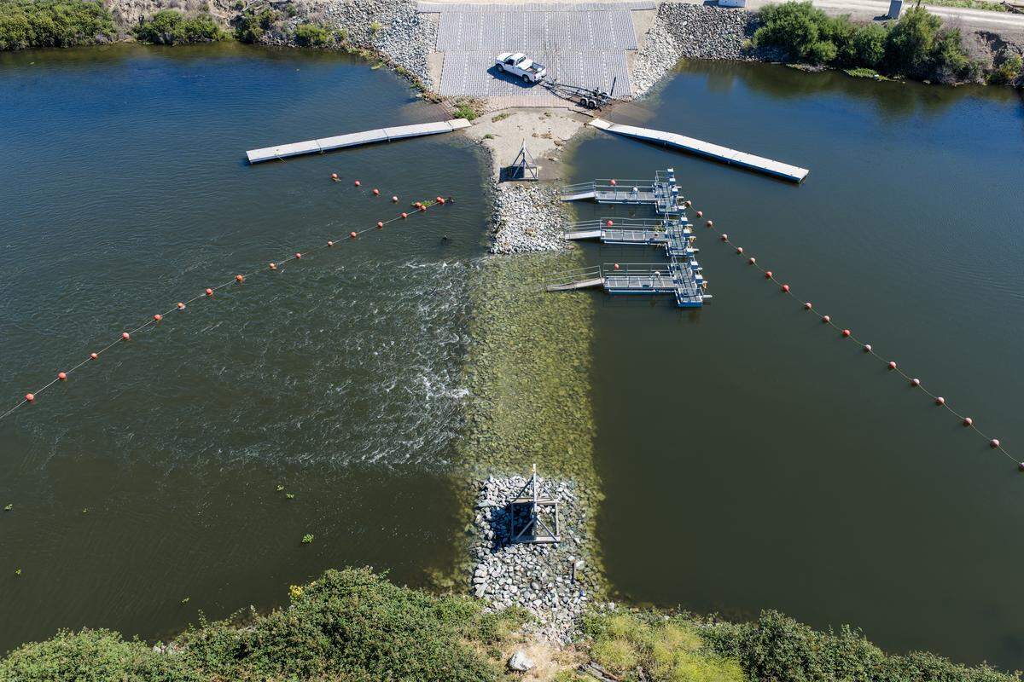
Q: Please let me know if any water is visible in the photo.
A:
Yes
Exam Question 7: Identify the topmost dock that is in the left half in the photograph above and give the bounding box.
[248,119,472,165]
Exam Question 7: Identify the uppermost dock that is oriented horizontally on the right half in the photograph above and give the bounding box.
[585,118,807,183]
